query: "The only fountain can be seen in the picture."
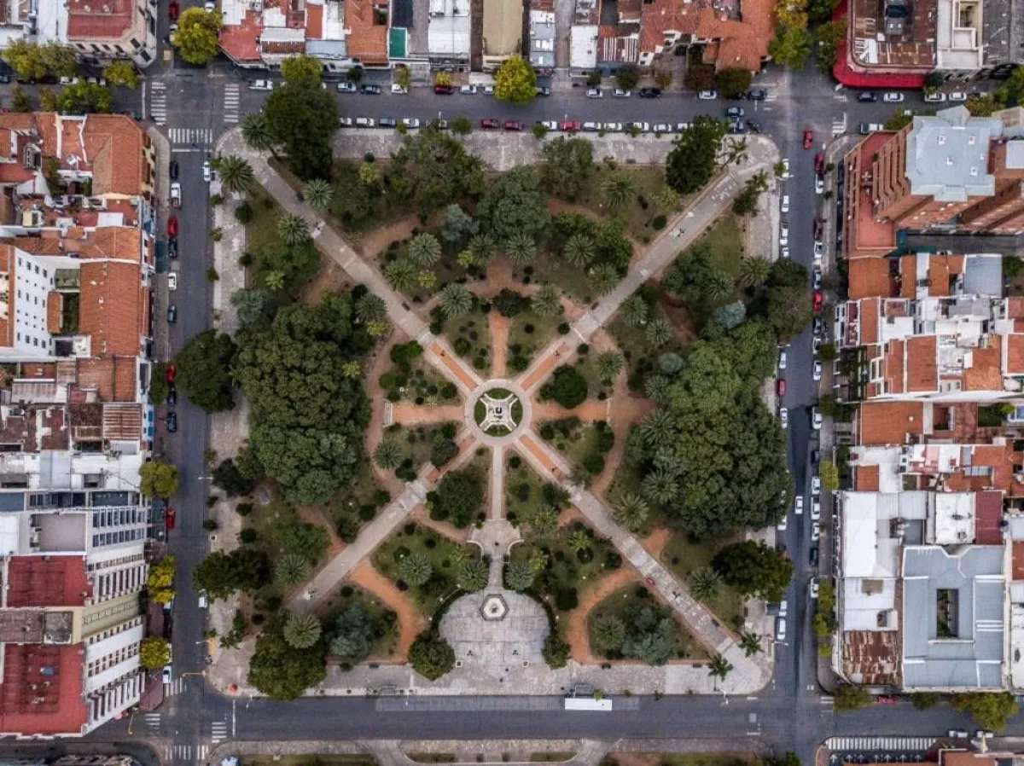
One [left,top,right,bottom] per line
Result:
[480,596,507,619]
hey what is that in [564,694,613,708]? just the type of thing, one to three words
vehicle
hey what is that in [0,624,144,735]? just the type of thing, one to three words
building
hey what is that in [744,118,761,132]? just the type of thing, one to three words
car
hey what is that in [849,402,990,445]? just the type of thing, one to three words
house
